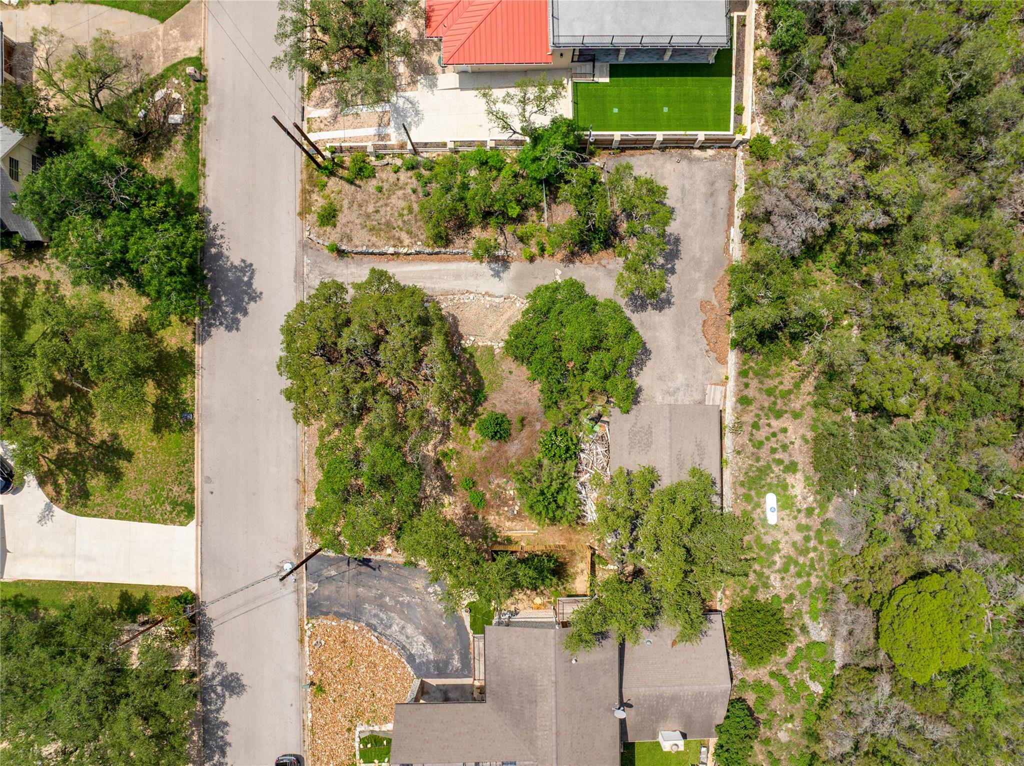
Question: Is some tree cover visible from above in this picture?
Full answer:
Yes, there's tree cover in this view.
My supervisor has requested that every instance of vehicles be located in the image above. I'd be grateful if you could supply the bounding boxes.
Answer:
[277,754,301,766]
[0,463,11,490]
